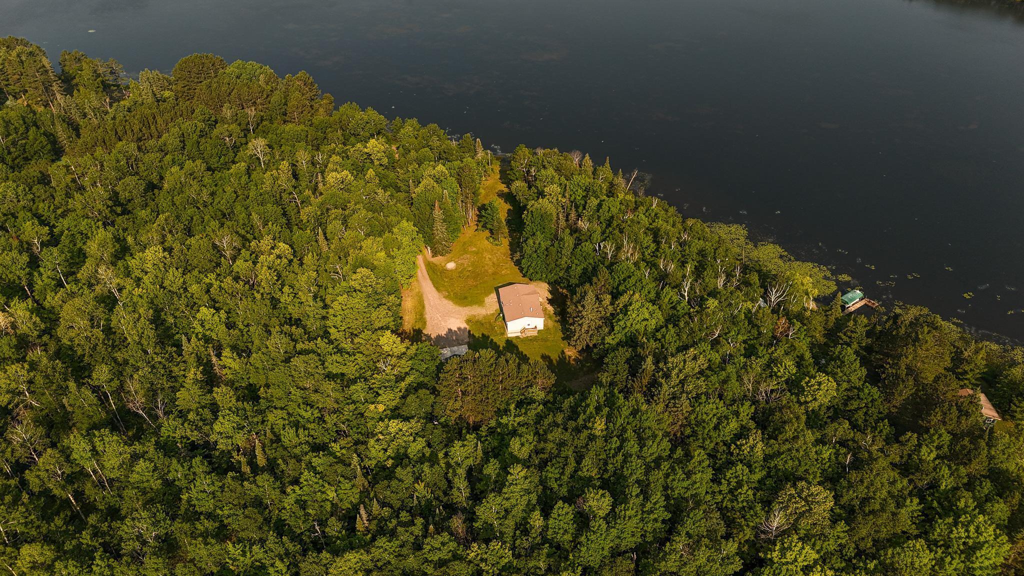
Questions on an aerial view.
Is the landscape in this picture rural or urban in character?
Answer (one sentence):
It looks rural.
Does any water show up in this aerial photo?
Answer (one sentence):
Yes, there is water in the image.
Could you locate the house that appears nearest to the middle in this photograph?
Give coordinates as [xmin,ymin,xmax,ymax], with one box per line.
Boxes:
[495,283,546,340]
